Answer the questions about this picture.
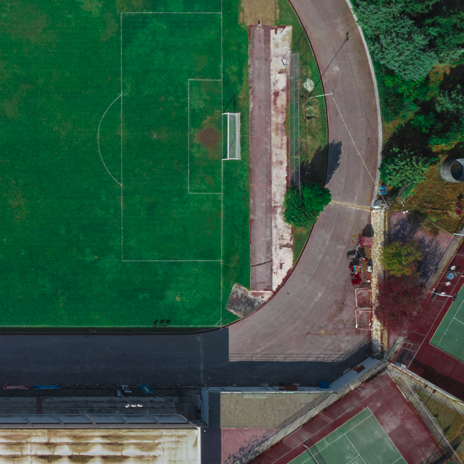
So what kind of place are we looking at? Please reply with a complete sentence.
It's a sports ground.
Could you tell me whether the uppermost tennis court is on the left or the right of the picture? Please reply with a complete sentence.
The uppermost tennis court appears in the right half of the scene.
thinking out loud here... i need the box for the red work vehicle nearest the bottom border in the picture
[350,261,368,284]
